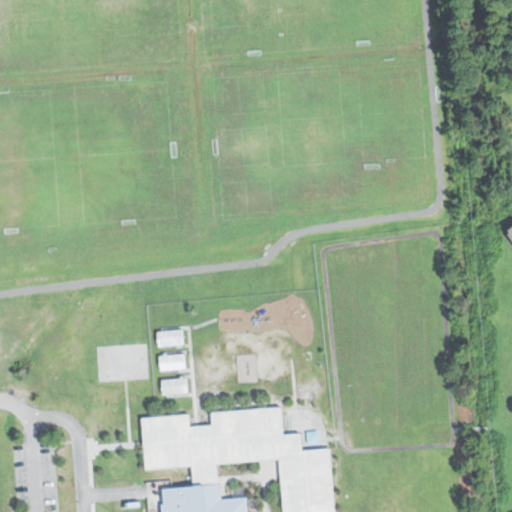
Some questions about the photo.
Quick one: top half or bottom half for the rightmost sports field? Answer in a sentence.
The rightmost sports field sits in the top half of the picture.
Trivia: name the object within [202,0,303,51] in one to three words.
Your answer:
sports field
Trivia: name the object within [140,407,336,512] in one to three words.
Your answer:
building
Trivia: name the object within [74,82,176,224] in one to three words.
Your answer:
sports field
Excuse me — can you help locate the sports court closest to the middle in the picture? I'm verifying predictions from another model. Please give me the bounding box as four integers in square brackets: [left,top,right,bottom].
[237,354,258,383]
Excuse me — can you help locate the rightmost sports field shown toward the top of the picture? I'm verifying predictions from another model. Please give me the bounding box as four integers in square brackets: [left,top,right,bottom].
[359,66,426,160]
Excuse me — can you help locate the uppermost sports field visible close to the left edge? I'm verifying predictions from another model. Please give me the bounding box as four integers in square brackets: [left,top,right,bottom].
[0,0,181,71]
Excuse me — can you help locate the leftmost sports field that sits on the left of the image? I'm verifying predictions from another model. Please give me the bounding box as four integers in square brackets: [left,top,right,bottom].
[0,90,59,230]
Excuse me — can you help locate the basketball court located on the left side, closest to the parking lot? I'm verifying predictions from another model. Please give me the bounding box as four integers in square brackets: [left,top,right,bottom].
[98,344,148,382]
